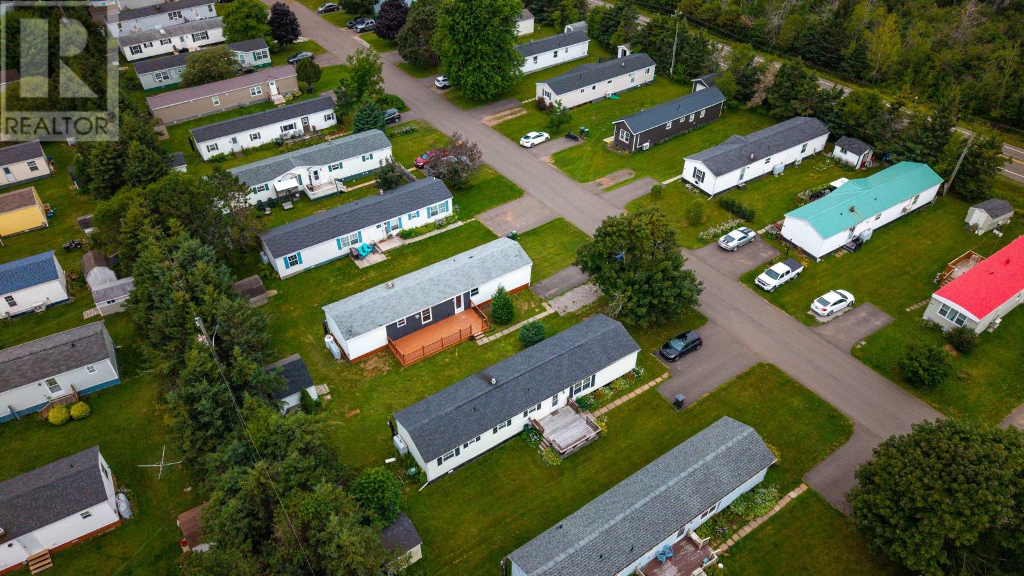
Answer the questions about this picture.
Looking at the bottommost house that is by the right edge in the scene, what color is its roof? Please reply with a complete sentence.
The roof over the bottommost house that is by the right edge appears red.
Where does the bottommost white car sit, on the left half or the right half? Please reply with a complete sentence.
It is on the right.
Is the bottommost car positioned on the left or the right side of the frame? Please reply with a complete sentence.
It is on the right.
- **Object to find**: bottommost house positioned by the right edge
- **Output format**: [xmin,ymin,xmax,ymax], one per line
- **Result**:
[924,231,1024,335]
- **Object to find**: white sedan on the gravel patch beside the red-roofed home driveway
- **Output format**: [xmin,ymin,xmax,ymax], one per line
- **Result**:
[810,289,854,320]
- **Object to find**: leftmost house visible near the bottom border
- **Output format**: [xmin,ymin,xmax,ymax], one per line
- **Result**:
[0,446,121,574]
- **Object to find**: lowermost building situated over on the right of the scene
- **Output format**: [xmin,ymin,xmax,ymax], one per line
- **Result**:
[507,415,776,576]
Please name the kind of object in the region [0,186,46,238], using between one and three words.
house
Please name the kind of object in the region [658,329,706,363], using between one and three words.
car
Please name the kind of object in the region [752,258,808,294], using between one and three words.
truck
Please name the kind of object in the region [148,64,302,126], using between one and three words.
house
